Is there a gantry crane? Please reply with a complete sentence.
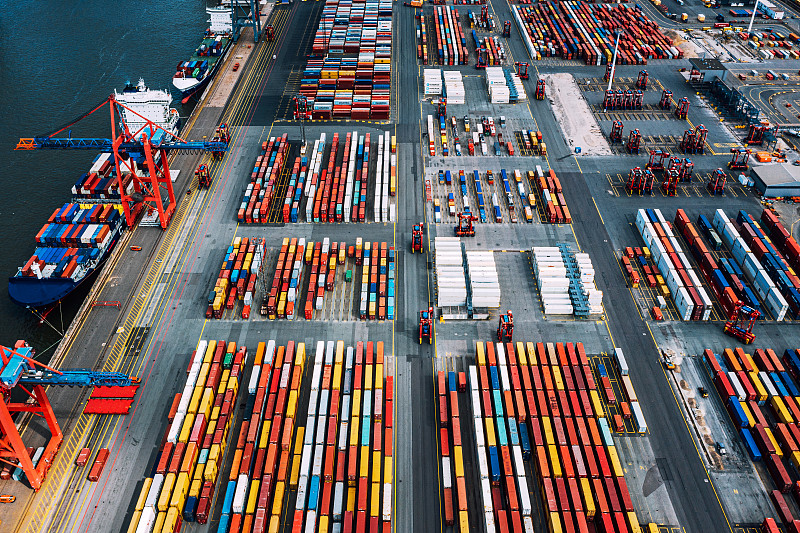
Yes, the image includes a gantry crane.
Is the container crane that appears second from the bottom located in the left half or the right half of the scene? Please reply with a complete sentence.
The container crane that appears second from the bottom sits on the left side.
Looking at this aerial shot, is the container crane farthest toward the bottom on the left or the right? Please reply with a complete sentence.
You can find the container crane farthest toward the bottom on the left side of the picture.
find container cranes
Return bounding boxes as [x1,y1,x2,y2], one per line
[10,91,230,230]
[227,0,262,42]
[0,341,134,492]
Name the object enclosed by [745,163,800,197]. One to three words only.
shed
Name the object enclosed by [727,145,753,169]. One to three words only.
work vehicle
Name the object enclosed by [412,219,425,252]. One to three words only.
vehicle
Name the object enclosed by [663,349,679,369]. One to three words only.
work vehicle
